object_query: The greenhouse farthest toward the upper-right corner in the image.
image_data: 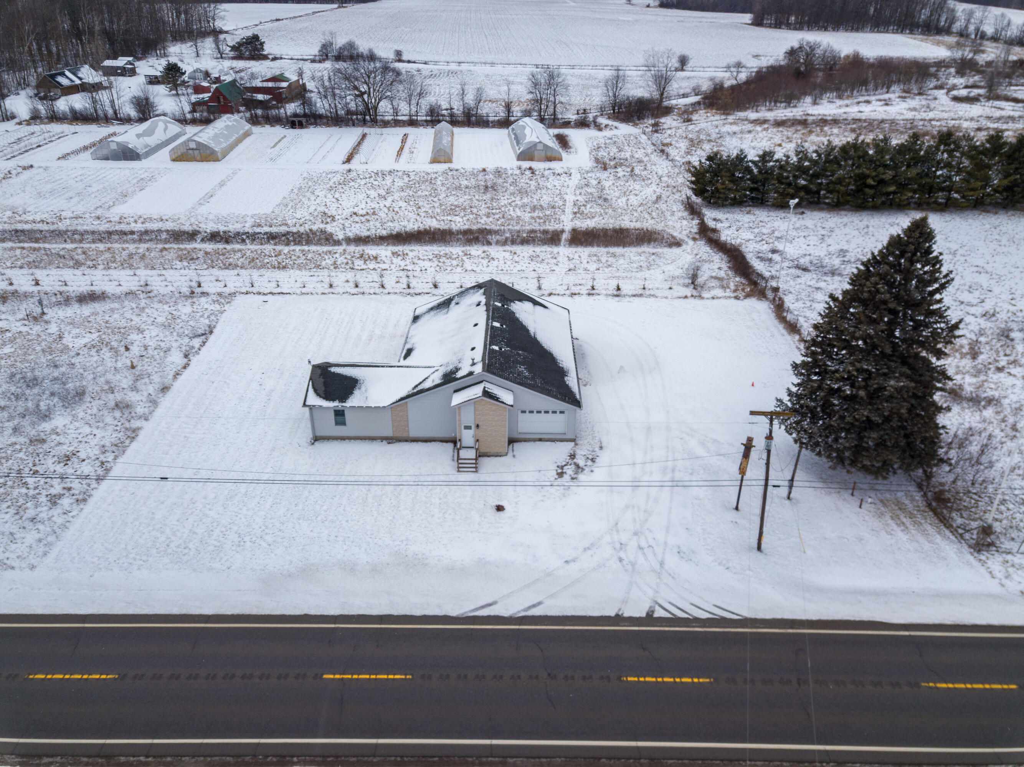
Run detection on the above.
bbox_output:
[511,113,563,161]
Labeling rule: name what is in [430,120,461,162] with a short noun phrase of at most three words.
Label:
greenhouse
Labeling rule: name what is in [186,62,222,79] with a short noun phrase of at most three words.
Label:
greenhouse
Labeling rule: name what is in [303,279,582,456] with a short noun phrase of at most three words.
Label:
house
